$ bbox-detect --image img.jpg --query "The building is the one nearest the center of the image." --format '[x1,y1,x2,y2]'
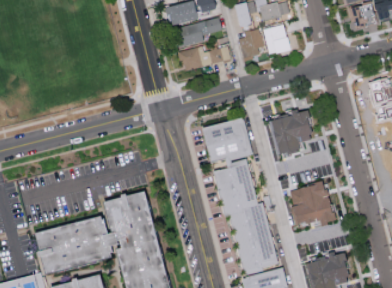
[202,118,252,164]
